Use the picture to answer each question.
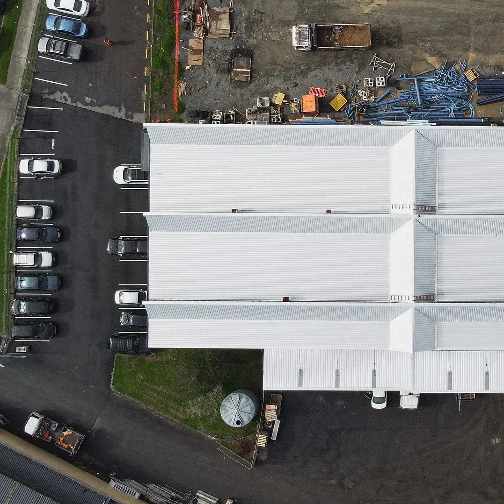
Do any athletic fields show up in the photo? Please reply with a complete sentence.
No, the picture doesn't show any athletic field.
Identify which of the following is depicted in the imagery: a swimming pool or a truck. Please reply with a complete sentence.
Of the two, only a truck appears.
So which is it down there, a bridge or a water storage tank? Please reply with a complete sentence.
I can see a water storage tank in this picture.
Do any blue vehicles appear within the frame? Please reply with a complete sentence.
Yes, the photo shows a blue vehicle.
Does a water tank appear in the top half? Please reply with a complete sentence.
No, there is no water tank in the top half.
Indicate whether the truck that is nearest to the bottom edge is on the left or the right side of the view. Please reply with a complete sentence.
The truck that is nearest to the bottom edge appears in the left half of the scene.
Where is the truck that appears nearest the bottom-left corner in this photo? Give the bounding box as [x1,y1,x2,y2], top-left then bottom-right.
[20,411,89,456]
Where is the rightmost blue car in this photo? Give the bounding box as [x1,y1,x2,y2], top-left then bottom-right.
[45,14,91,39]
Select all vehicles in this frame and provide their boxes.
[115,287,149,308]
[12,296,54,318]
[45,14,91,39]
[15,224,64,245]
[18,157,64,177]
[109,334,154,355]
[370,394,390,411]
[397,394,421,409]
[47,0,93,18]
[294,20,373,51]
[112,163,150,186]
[20,411,89,456]
[39,35,87,61]
[110,236,149,257]
[123,310,148,329]
[15,203,56,221]
[12,250,58,270]
[16,271,64,293]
